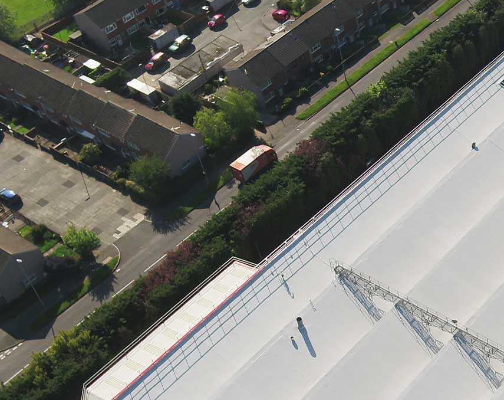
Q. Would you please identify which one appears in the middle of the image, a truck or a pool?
truck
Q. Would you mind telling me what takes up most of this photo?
buildings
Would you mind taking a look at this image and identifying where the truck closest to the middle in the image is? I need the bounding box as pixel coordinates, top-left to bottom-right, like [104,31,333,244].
[226,142,276,183]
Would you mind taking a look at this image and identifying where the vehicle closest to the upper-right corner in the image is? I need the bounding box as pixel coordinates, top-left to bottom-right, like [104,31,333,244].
[268,6,293,23]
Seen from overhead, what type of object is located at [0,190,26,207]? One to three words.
car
